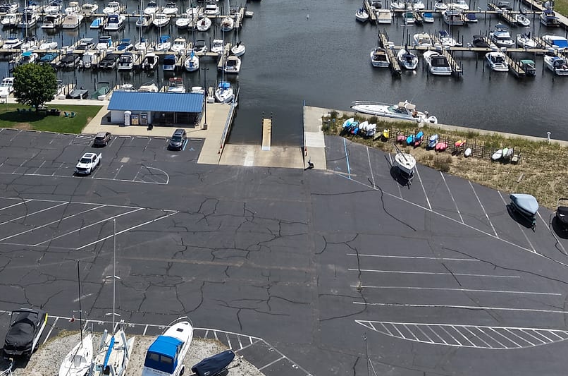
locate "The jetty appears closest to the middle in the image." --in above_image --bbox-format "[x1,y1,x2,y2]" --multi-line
[260,110,272,150]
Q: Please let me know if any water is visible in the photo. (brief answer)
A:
Yes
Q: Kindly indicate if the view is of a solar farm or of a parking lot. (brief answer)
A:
parking lot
